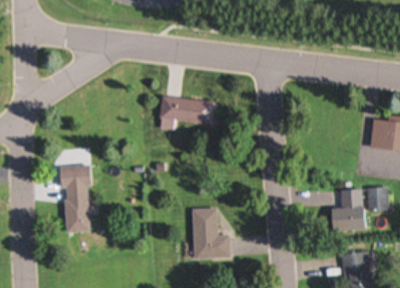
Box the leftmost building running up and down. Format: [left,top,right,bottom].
[60,166,92,232]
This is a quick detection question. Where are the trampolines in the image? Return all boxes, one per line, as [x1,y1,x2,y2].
[108,165,119,176]
[374,216,387,229]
